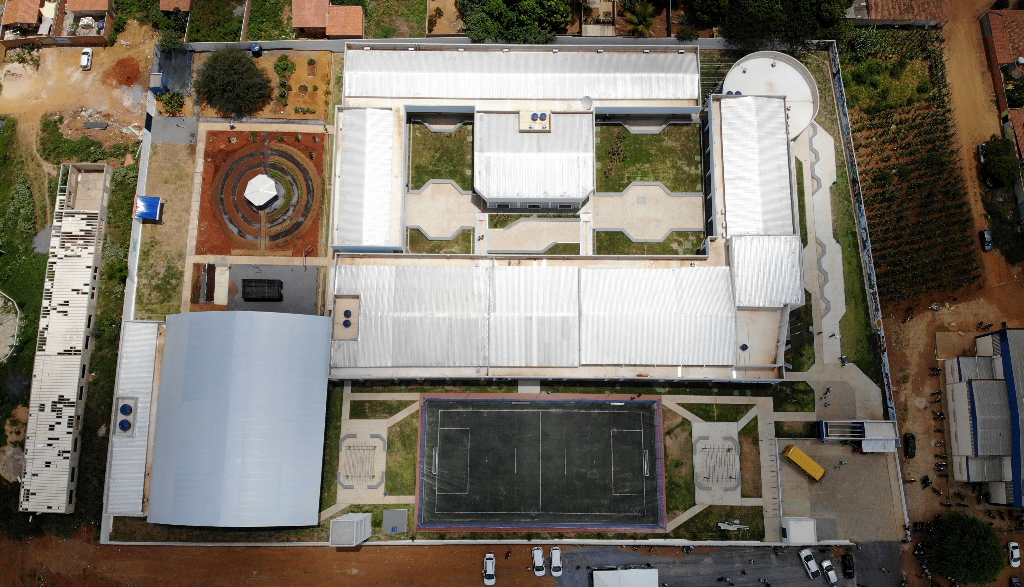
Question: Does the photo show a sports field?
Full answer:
Yes, I can see a sports field in this picture.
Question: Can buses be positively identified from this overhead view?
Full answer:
Yes, I can see a bus in this picture.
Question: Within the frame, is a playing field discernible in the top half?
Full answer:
No, no playing field is visible in the top half.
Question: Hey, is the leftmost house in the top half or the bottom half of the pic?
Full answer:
The leftmost house sits in the top half of the picture.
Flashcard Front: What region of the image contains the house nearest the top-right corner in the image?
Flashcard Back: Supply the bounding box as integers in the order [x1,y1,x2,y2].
[981,12,1024,70]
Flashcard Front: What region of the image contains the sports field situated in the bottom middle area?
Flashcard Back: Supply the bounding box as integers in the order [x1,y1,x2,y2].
[424,403,659,525]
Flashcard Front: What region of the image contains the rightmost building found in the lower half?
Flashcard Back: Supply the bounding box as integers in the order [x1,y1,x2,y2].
[934,328,1024,508]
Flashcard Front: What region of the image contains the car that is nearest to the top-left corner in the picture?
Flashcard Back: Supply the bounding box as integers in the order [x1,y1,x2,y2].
[79,49,96,70]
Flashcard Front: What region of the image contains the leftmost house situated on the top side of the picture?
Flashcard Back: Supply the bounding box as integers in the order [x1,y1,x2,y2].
[2,0,48,32]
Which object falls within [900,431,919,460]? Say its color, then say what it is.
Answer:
black car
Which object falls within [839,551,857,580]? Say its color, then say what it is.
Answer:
black car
